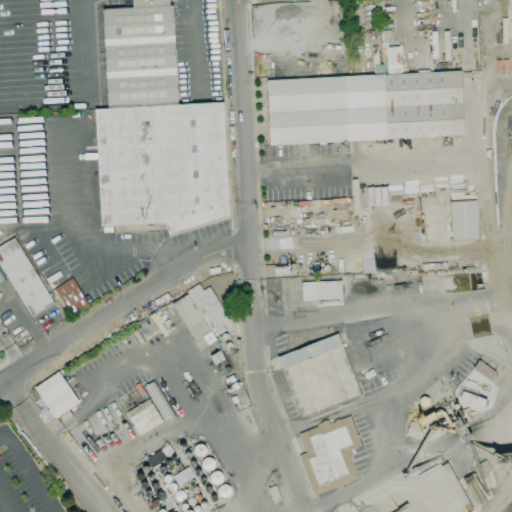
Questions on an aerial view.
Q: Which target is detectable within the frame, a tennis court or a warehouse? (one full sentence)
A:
Of the two, only a warehouse appears.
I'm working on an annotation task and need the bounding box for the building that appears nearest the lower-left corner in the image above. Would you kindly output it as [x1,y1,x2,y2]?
[35,372,81,420]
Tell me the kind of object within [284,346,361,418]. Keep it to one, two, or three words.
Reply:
building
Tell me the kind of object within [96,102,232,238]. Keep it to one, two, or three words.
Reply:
warehouse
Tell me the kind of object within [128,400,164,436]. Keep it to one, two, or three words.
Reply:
shed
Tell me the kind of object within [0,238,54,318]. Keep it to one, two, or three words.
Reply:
building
